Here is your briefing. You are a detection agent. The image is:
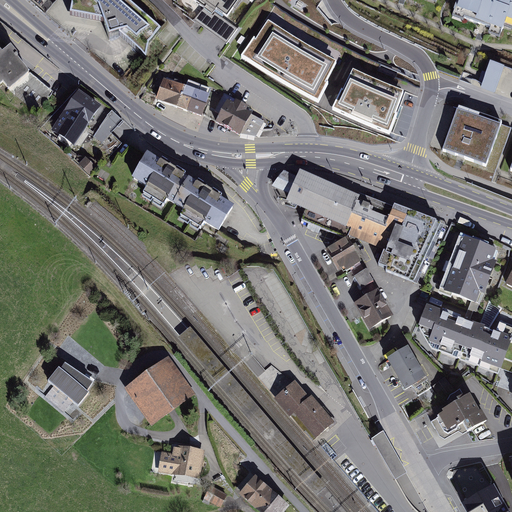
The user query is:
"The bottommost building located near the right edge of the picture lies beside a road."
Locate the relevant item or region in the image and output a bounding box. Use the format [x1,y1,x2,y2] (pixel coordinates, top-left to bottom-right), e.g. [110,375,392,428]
[446,458,510,512]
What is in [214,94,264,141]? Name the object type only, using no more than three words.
house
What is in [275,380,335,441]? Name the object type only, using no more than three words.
train station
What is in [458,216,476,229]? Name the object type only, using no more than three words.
vehicle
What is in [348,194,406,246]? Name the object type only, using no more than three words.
building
